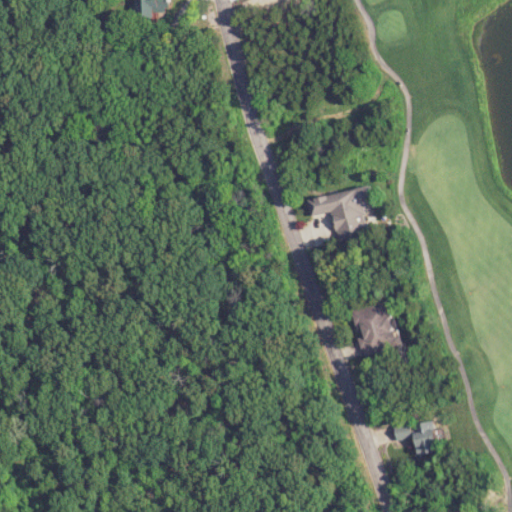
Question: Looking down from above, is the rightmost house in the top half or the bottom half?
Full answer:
Seen from above, the rightmost house lies in the bottom half of the view.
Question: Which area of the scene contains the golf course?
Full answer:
Look in the right portion of the view to spot the golf course.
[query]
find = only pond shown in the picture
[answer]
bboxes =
[480,0,512,188]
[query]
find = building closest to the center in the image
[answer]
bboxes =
[307,187,372,236]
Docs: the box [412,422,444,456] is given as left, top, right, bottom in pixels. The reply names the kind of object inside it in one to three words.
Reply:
house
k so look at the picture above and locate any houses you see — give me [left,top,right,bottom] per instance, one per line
[412,422,444,456]
[307,187,372,236]
[142,0,168,20]
[353,306,404,358]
